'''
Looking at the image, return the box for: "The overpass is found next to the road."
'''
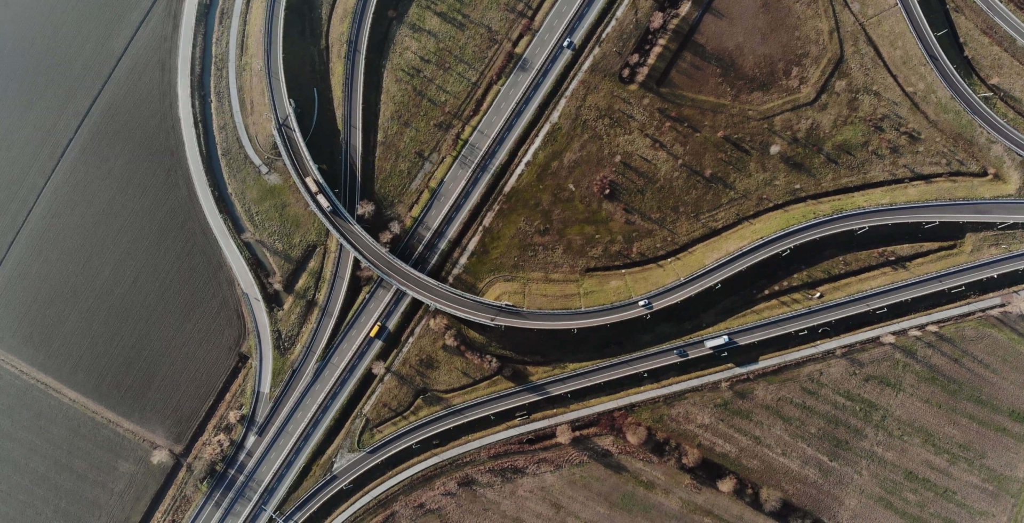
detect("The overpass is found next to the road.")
[272,110,504,325]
